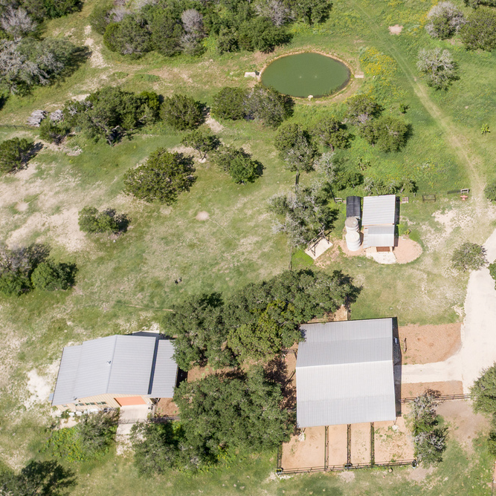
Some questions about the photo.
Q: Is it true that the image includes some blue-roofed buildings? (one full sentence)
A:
No, the frame has no blue-roofed building in it.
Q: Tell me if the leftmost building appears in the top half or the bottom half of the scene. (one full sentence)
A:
The bottom half of the photo is where the leftmost building is.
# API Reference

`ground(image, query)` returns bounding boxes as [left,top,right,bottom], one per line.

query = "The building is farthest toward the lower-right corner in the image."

[298,318,398,432]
